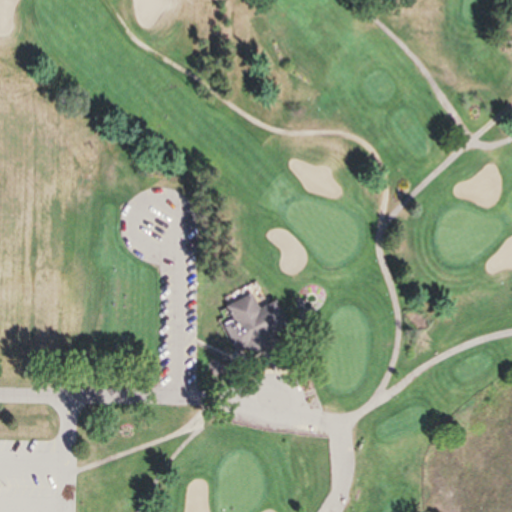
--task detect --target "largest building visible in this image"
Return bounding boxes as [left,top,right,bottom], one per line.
[227,292,280,350]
